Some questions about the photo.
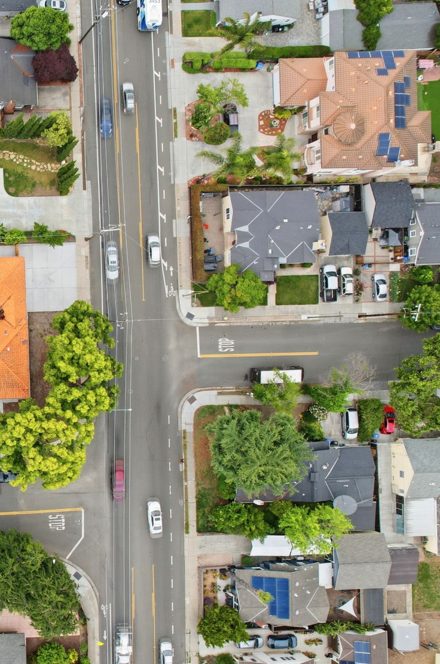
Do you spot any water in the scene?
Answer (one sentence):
No, there's no water in this view.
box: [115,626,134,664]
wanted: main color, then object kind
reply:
white vehicle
